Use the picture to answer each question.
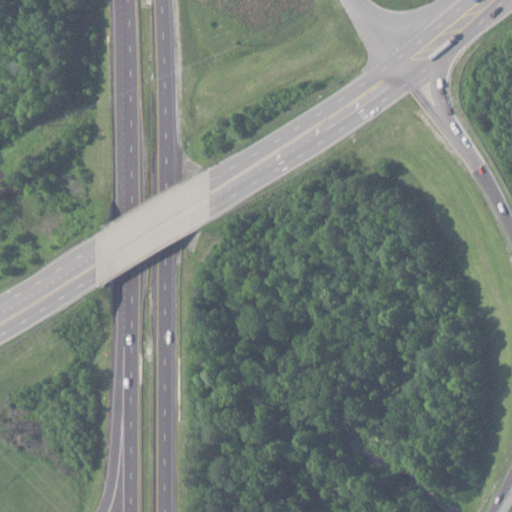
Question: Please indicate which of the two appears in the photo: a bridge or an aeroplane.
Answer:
bridge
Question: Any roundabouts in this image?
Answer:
No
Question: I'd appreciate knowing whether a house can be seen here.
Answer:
No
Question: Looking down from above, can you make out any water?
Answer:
No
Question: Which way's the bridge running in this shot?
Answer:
at an angle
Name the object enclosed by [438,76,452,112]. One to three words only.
vehicle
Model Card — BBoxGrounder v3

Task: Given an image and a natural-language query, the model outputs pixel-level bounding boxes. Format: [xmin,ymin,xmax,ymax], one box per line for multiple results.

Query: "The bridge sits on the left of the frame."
[94,151,209,322]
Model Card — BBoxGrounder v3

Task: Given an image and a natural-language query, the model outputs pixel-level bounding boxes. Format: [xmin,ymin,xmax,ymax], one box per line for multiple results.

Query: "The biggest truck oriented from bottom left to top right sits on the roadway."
[428,32,465,58]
